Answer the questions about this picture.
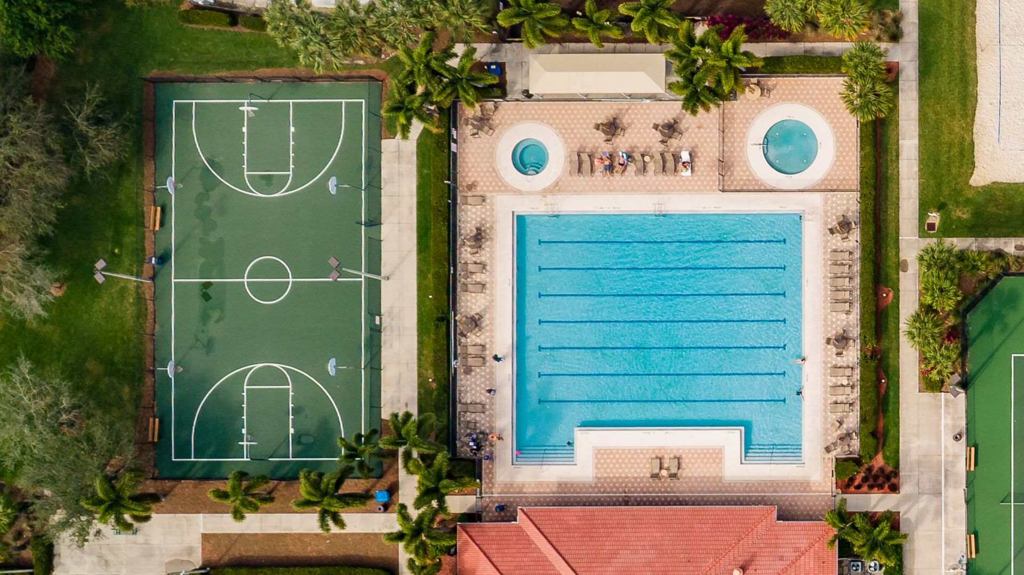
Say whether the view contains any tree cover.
Yes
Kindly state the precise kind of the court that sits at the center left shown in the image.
basketball court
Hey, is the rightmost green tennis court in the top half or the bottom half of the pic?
bottom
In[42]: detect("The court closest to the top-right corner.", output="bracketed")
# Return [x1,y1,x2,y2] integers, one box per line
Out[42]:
[970,0,1024,186]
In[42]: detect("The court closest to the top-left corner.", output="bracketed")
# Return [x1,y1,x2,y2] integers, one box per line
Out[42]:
[154,81,382,479]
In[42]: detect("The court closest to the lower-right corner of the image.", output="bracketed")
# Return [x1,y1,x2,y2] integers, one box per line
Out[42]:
[968,277,1024,575]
